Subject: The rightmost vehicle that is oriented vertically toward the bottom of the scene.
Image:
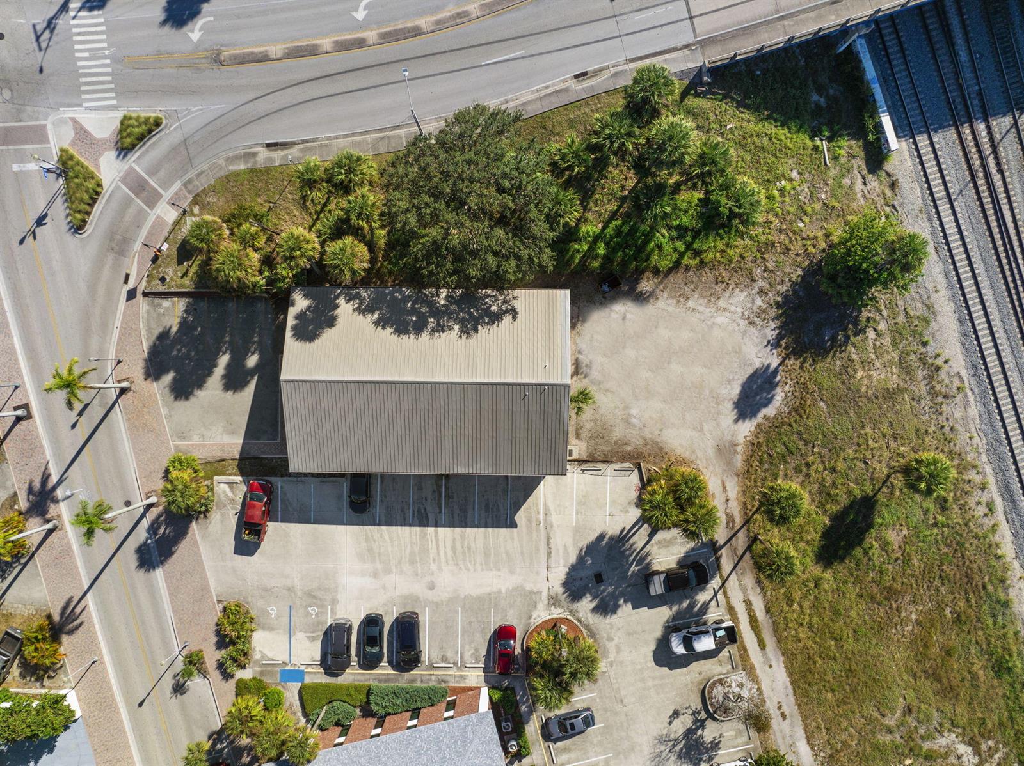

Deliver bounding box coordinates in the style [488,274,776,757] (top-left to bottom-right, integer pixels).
[493,623,517,675]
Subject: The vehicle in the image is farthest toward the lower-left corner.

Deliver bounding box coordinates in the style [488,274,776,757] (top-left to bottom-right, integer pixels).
[0,624,29,689]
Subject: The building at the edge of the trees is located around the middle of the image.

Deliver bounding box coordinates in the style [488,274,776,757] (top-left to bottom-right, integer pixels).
[276,286,572,476]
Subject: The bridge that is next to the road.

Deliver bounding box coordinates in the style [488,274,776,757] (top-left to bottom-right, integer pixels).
[686,0,948,82]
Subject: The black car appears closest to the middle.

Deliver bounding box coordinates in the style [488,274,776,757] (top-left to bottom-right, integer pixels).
[347,476,372,514]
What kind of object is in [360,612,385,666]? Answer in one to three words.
car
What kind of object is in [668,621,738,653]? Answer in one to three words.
truck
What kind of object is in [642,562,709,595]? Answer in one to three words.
truck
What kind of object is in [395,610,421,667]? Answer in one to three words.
car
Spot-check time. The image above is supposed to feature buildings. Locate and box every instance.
[205,686,511,766]
[276,286,572,476]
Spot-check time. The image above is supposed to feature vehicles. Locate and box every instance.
[0,624,29,689]
[327,617,353,670]
[240,479,273,544]
[395,610,421,667]
[347,476,372,514]
[360,612,385,666]
[668,621,738,653]
[543,708,596,740]
[493,623,517,675]
[642,562,709,595]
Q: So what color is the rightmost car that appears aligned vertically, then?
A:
red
